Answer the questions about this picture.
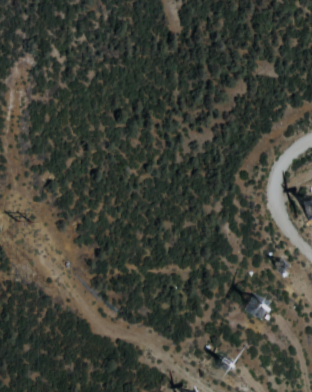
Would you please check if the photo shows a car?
No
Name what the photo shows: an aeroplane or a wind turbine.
wind turbine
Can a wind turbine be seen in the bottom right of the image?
Yes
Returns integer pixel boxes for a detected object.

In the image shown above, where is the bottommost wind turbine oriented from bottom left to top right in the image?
[218,346,246,376]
